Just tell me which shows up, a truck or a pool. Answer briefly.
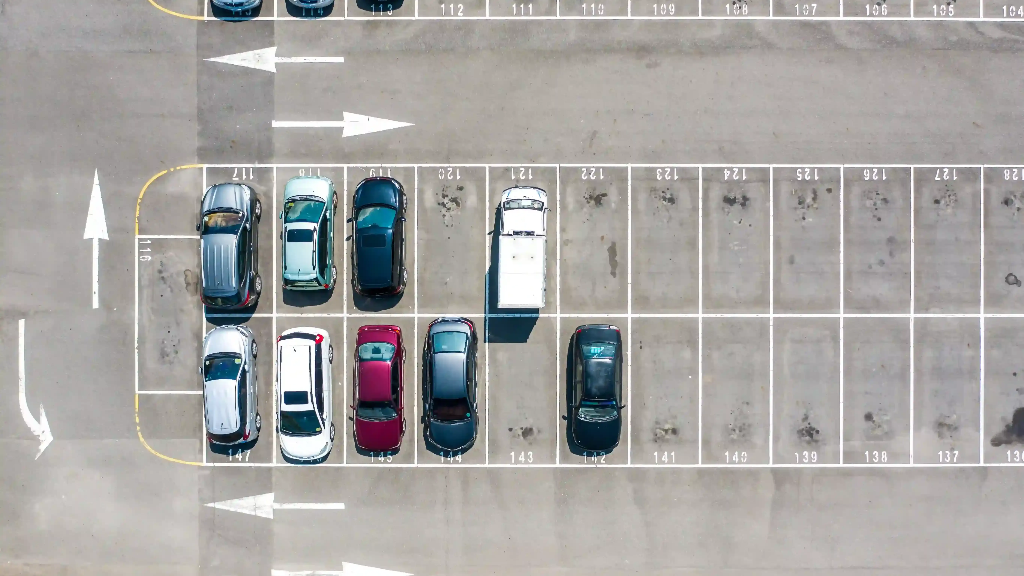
truck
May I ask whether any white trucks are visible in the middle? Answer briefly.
Yes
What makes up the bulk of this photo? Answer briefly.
paved ground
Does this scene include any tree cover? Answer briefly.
No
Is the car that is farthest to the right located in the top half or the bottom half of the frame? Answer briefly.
bottom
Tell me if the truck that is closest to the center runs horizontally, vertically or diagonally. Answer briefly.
vertically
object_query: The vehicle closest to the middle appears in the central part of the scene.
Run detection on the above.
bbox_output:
[492,186,553,310]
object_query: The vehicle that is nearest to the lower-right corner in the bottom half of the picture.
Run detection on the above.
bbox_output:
[569,324,628,449]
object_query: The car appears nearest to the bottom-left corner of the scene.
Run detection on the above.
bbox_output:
[196,325,263,444]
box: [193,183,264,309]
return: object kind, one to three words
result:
car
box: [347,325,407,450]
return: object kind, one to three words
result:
car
